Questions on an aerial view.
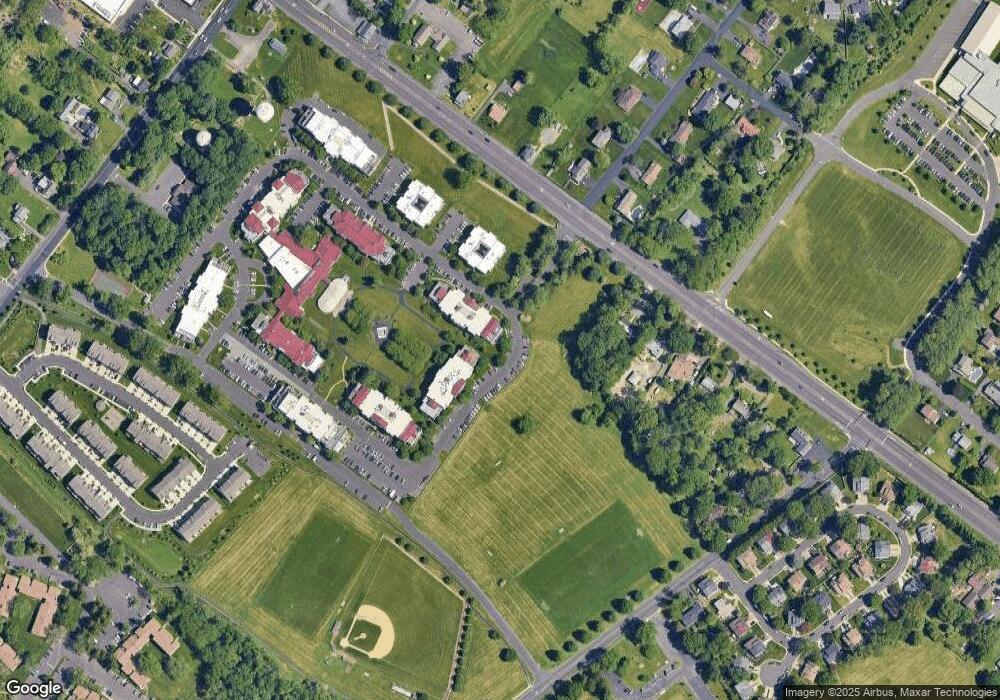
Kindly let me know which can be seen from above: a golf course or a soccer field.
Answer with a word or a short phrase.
soccer field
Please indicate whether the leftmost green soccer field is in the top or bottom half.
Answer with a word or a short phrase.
bottom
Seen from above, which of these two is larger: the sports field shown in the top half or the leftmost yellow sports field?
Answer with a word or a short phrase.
the sports field shown in the top half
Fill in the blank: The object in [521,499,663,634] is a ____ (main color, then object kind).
green soccer field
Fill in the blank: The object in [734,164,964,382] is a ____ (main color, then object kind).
green sports field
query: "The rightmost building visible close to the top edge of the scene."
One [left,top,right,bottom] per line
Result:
[938,2,1000,132]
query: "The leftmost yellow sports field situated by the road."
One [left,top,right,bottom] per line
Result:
[194,468,384,664]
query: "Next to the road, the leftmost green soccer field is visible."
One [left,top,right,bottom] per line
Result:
[257,499,373,635]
